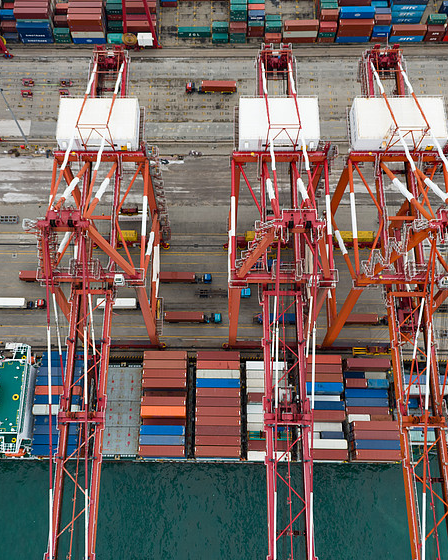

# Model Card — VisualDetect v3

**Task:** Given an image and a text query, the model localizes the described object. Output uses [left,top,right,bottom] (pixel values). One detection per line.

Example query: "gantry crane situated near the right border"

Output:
[316,43,448,560]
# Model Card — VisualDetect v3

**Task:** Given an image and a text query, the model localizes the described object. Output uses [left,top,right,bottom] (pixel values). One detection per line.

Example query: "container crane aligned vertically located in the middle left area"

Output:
[16,43,174,560]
